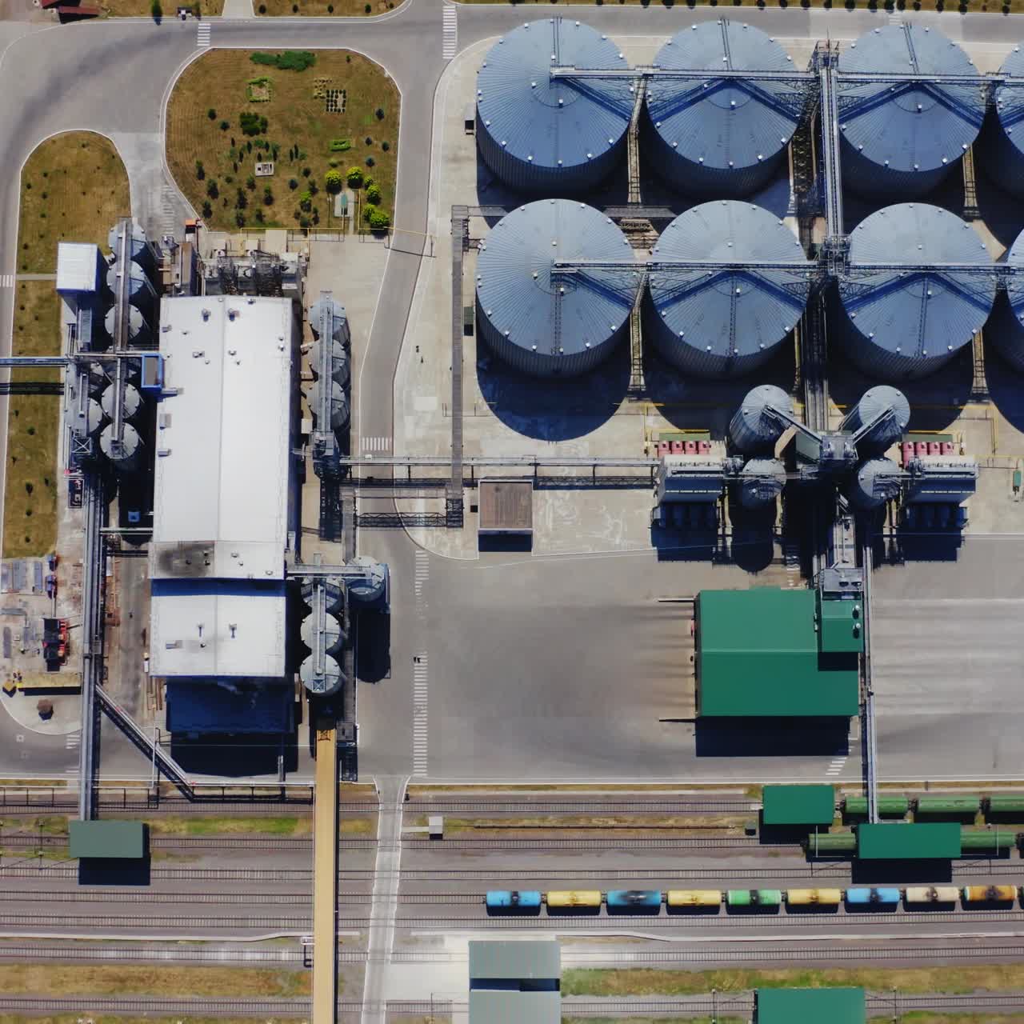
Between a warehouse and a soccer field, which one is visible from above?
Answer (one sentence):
Looking from above, you can make out a warehouse.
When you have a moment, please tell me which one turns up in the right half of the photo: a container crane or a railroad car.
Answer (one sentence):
You can see a railroad car in the right half of the photo.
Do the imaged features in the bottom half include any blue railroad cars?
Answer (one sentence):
Yes, the scene does show a blue railroad car in the bottom half.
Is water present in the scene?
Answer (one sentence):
No, the scene doesn't show any water.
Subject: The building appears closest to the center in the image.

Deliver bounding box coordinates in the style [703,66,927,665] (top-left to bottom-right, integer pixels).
[478,480,533,534]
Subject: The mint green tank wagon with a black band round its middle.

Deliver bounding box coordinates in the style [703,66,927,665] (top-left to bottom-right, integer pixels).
[722,889,783,905]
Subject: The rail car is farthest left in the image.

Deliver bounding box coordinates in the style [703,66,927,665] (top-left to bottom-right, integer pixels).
[483,891,544,907]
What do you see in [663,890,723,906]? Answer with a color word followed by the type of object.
yellow rail car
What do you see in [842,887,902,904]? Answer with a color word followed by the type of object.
blue rail car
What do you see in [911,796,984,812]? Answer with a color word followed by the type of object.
green rail car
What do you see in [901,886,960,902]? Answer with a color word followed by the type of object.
white rail car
